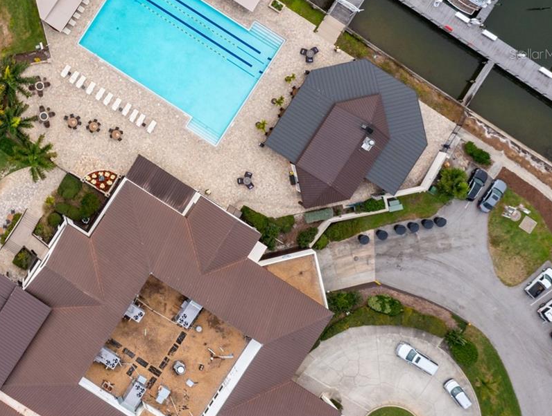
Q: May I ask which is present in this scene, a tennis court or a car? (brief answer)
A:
car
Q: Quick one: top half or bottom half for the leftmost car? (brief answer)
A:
bottom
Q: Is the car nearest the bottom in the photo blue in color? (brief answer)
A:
No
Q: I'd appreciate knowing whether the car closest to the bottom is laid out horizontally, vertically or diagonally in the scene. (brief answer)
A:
diagonally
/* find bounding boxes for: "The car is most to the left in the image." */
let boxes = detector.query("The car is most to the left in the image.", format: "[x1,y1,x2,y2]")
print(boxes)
[391,340,439,375]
